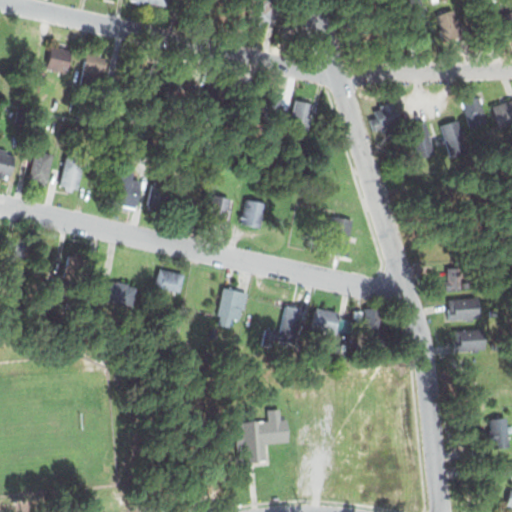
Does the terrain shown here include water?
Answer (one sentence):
No, water can't be seen anywhere here.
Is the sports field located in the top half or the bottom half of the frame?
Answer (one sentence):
The sports field sits in the bottom half of the picture.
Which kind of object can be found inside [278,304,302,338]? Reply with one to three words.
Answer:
house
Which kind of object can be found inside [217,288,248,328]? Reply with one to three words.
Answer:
house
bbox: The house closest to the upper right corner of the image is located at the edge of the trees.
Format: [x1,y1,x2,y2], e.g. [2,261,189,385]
[438,10,460,42]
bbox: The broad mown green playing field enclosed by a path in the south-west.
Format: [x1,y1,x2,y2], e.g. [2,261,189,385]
[0,362,114,496]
